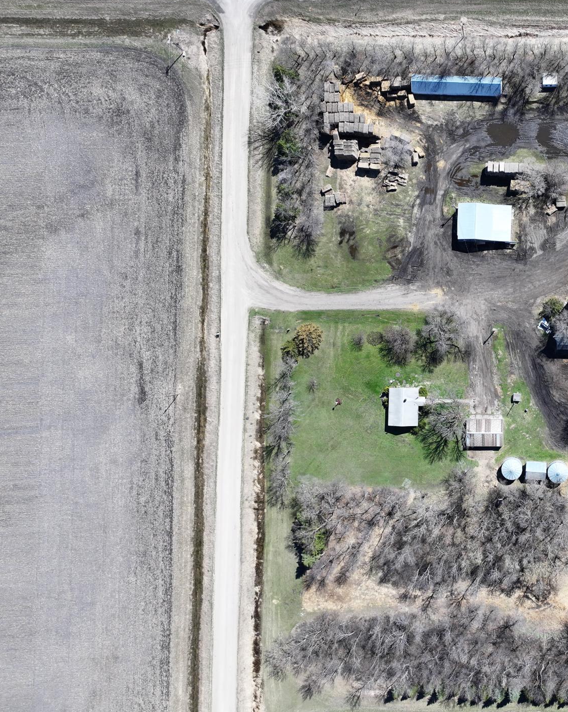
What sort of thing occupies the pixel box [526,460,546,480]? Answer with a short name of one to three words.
shed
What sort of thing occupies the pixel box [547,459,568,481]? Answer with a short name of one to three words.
silo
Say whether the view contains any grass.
Yes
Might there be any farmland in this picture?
Yes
